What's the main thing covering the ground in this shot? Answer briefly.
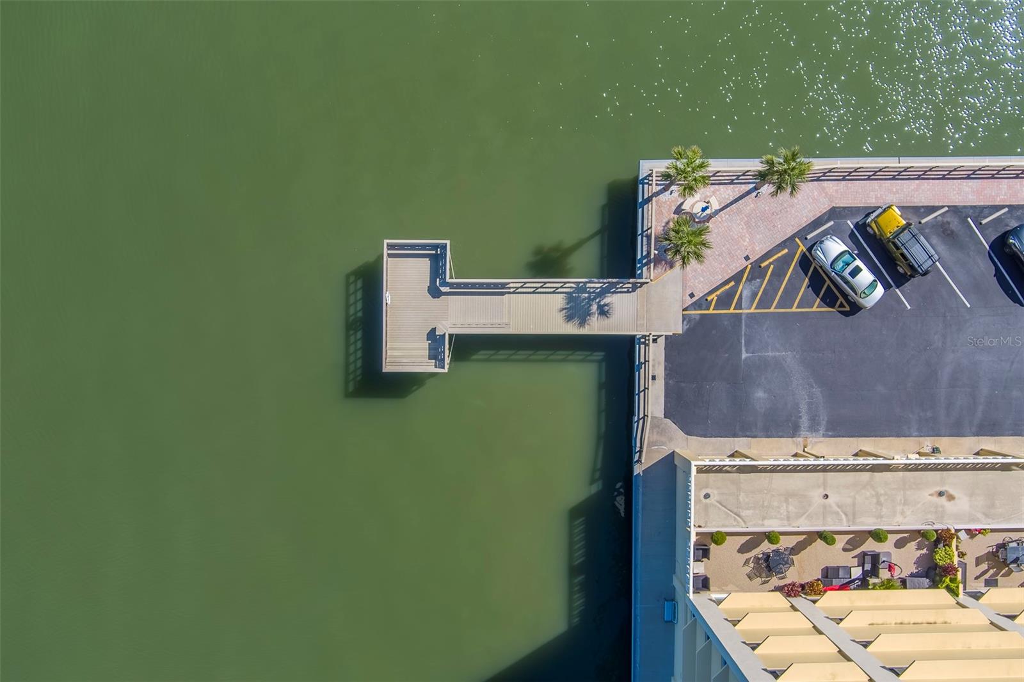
water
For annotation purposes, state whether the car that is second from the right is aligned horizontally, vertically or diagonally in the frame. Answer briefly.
diagonally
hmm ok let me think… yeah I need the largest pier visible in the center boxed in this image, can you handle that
[384,240,673,372]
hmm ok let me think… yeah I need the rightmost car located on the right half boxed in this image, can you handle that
[1000,221,1024,273]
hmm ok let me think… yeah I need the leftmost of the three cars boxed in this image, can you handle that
[809,234,885,311]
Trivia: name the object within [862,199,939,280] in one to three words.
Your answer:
car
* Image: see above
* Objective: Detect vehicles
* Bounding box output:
[1000,221,1024,273]
[809,234,885,311]
[862,199,939,280]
